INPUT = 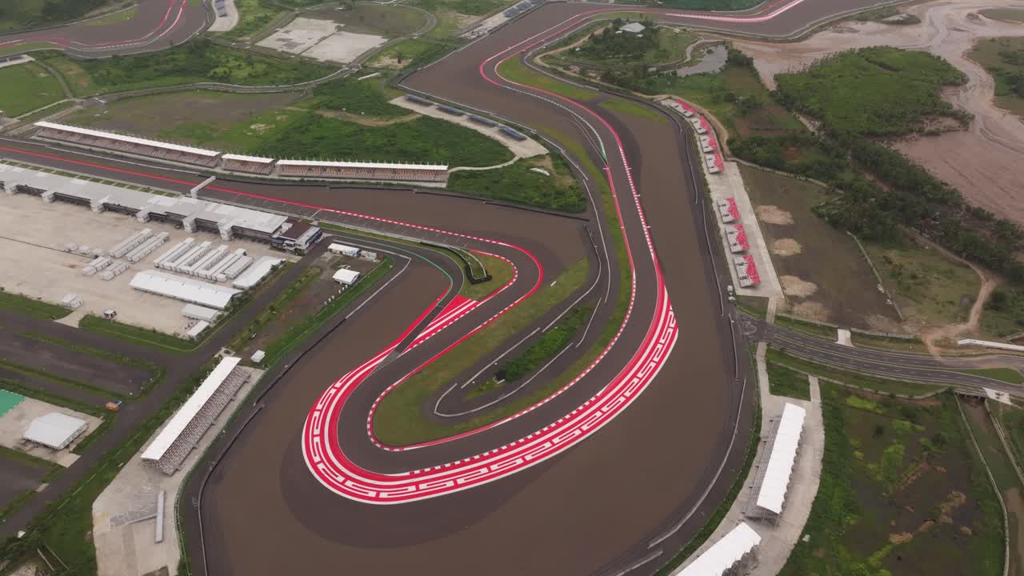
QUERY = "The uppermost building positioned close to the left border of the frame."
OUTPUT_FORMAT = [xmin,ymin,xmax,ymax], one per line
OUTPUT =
[0,165,291,242]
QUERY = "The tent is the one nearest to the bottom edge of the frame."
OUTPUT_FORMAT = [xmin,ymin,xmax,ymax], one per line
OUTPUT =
[24,413,87,454]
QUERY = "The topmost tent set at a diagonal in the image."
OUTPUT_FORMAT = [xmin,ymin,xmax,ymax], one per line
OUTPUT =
[233,254,286,293]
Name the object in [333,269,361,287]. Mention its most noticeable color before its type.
white tent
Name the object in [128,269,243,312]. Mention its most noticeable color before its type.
white tent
